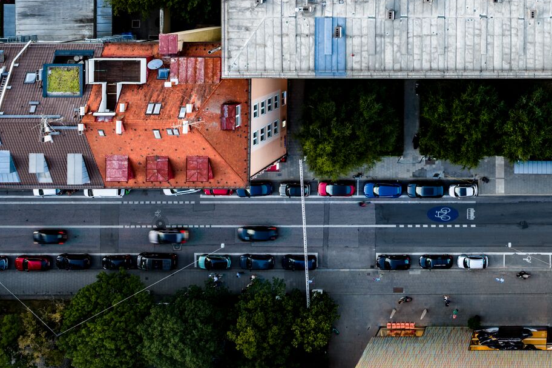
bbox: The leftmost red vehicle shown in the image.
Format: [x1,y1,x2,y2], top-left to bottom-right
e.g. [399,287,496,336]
[15,254,51,272]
